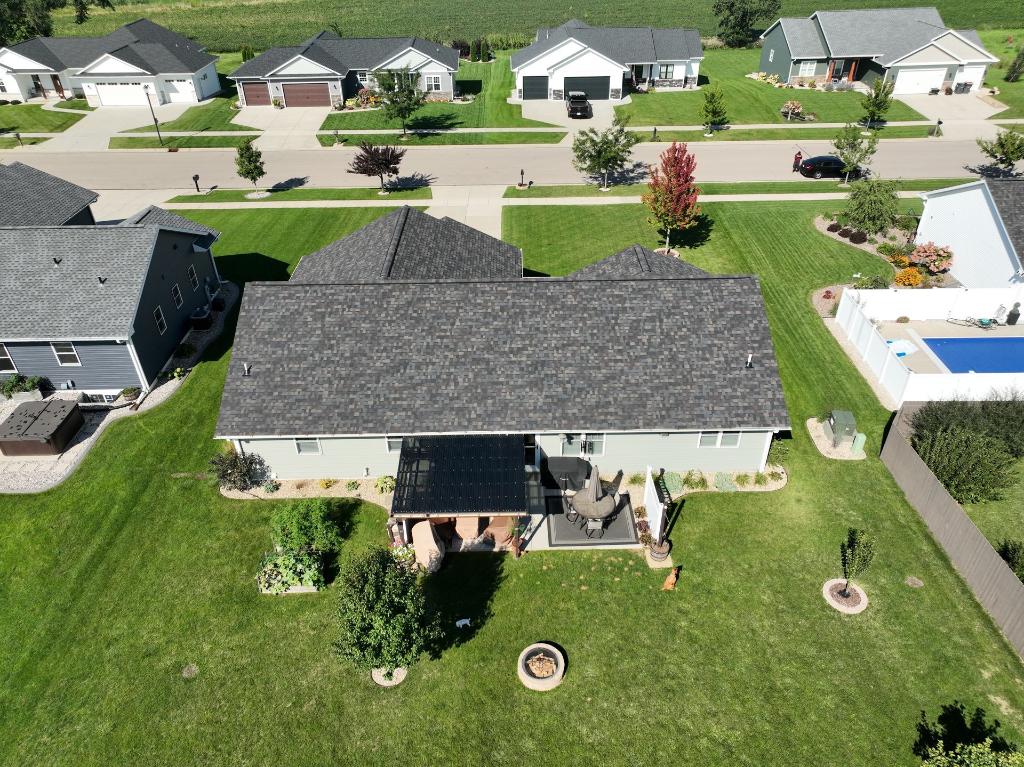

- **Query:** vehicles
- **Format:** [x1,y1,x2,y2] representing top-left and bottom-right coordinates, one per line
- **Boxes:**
[564,89,591,116]
[798,153,870,179]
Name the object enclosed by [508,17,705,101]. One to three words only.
house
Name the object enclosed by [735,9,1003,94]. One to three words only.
building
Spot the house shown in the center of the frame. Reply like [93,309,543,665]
[214,204,792,493]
